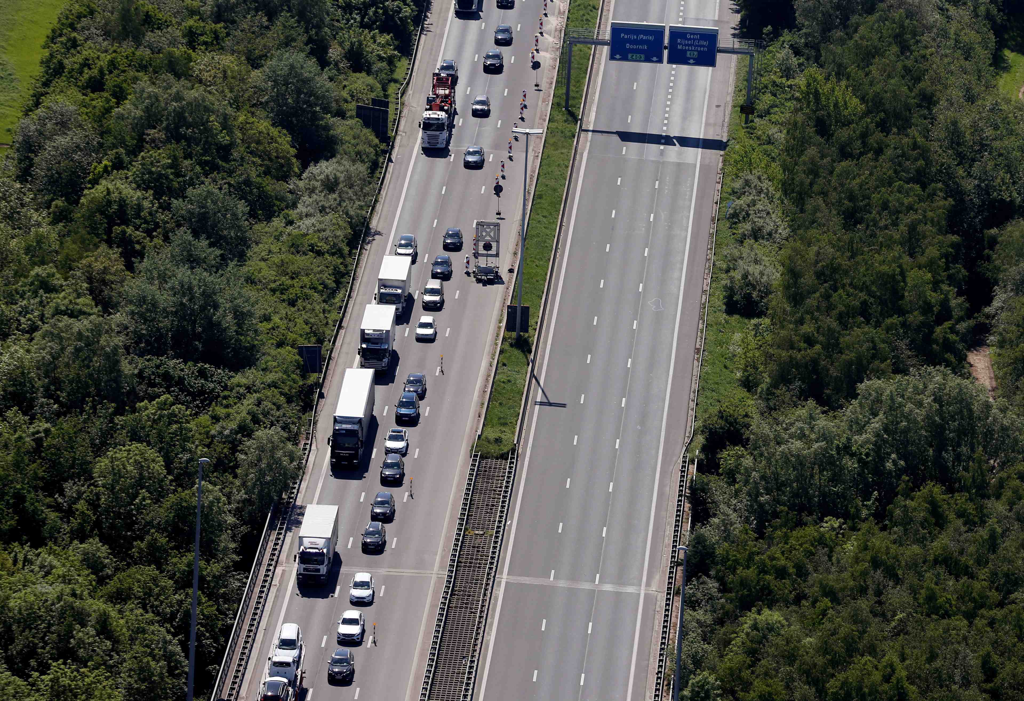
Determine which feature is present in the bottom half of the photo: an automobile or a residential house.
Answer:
automobile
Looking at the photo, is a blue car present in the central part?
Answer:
Yes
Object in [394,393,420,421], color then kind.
blue car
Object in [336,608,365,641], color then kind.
white car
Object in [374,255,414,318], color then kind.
white truck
